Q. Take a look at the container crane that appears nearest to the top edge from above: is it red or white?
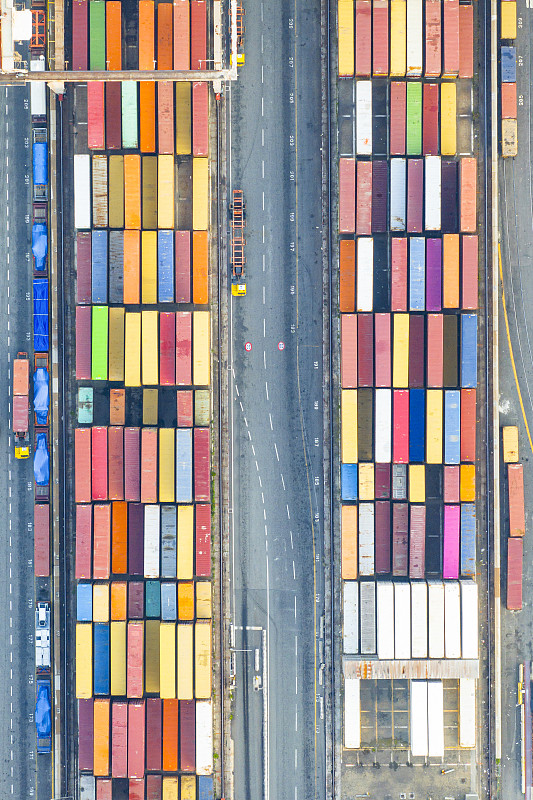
white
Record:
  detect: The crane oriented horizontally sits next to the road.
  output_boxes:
[0,0,238,101]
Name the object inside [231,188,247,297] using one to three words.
vehicle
